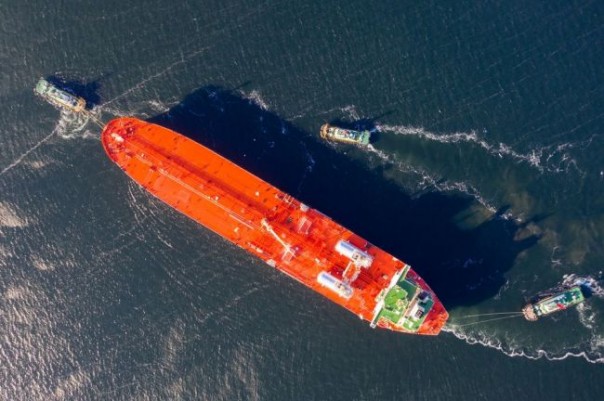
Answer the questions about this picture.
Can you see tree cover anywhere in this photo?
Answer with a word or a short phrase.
No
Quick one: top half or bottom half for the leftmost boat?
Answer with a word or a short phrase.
top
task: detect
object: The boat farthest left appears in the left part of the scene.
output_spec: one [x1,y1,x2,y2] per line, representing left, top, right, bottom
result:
[34,78,88,113]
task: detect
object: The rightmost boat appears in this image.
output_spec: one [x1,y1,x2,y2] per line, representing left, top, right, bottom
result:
[520,284,589,322]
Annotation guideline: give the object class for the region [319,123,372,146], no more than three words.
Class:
boat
